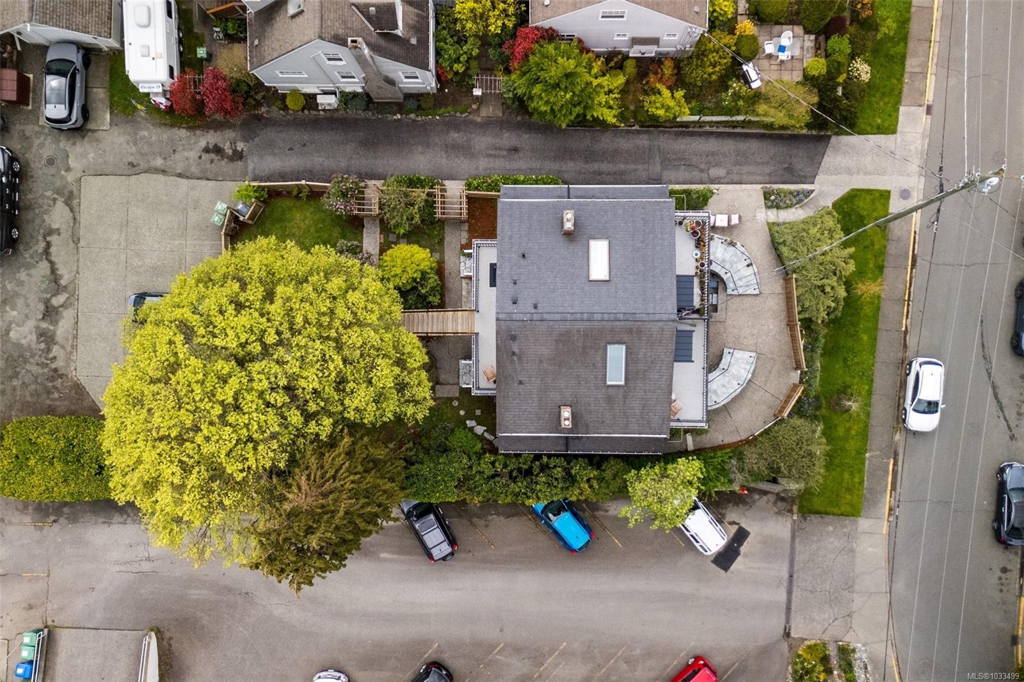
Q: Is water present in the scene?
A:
No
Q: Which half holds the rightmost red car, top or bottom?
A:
bottom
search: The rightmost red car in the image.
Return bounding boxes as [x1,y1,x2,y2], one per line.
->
[666,650,719,682]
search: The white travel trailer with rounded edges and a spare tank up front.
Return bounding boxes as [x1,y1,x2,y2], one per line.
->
[123,0,186,121]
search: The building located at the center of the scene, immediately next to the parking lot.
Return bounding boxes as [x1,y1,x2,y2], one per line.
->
[474,185,708,456]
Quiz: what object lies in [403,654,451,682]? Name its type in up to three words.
car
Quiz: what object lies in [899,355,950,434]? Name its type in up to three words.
car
